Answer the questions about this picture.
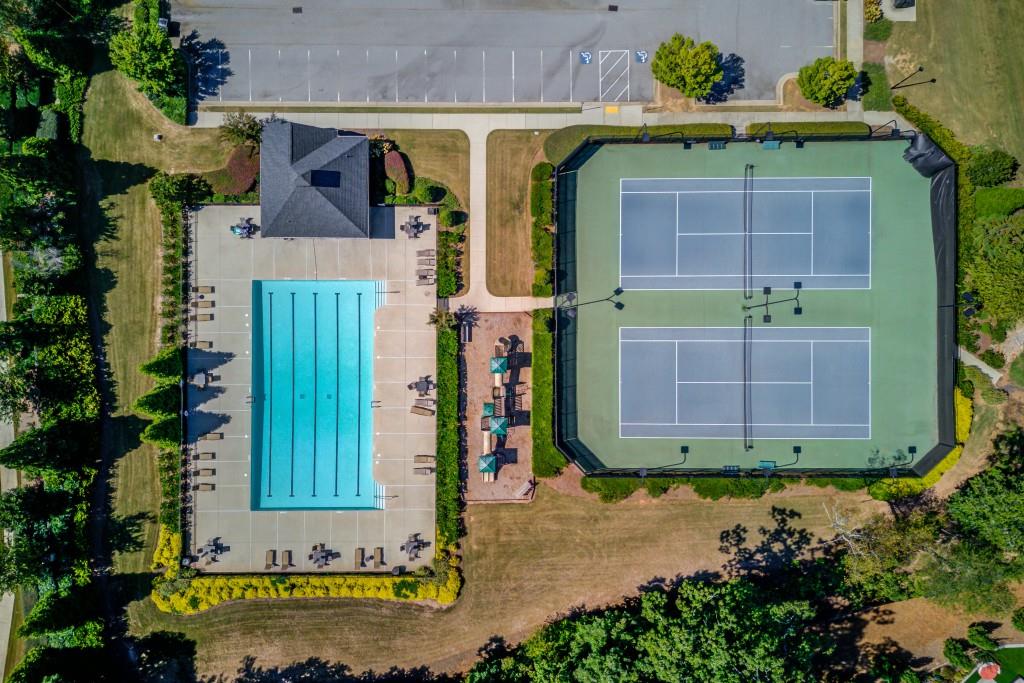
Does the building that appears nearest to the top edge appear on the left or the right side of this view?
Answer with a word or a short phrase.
left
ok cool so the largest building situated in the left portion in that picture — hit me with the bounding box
[260,120,369,239]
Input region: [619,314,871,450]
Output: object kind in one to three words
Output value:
tennis court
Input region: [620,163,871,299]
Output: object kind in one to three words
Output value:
tennis court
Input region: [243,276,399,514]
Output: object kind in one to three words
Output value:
swimming pool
